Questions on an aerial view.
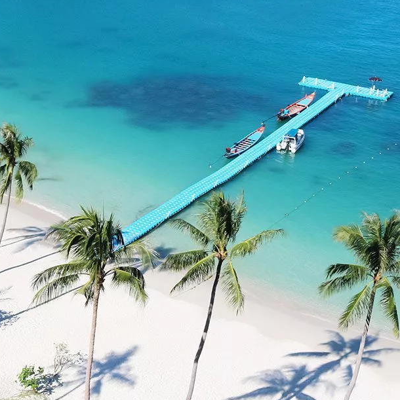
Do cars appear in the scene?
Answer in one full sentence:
No, the photo shows no car.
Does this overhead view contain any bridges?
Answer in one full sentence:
No, no bridge is visible in the view.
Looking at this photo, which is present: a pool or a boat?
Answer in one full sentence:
Of the two, only a boat appears.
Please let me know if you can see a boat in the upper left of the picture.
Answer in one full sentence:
No, no boat is visible in the upper left of the picture.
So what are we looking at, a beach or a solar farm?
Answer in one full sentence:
This looks like a beach.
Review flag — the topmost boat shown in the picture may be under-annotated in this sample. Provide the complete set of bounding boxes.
[259,88,316,124]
